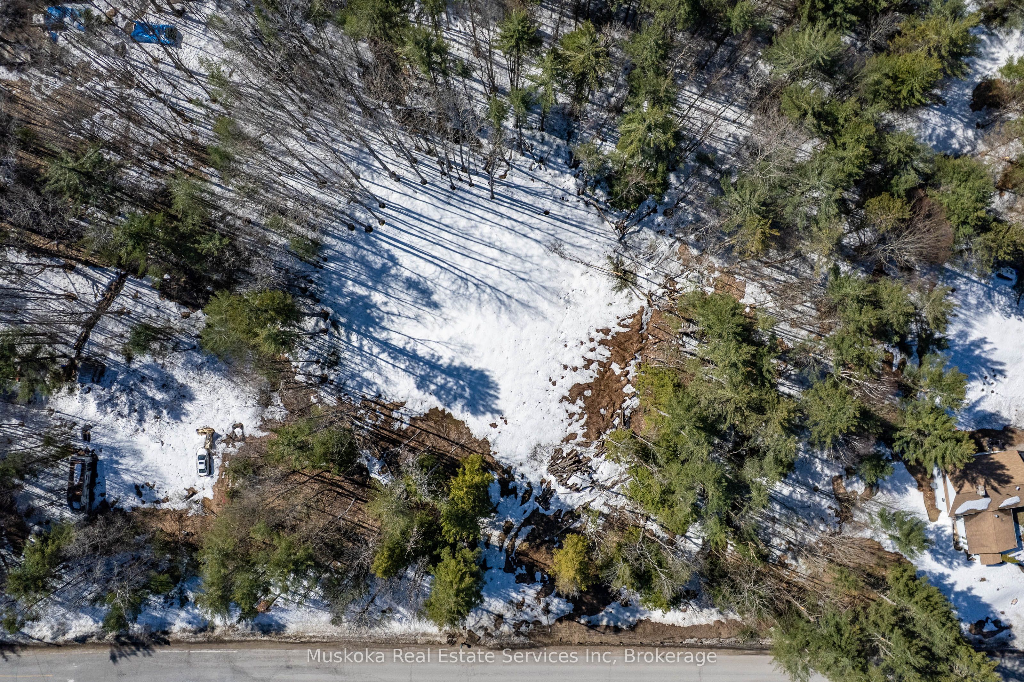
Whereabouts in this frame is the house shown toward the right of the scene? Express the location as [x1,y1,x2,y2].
[936,454,1024,561]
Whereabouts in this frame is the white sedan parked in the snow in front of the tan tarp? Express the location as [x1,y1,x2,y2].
[194,447,210,477]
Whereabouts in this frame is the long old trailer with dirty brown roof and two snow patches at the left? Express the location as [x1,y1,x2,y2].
[62,448,94,518]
